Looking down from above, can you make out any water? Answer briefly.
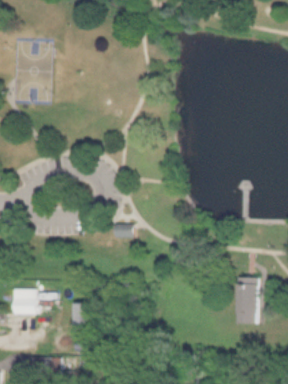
Yes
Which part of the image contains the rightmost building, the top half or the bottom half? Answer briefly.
bottom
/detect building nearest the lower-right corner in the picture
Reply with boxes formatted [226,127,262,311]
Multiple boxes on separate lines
[236,278,260,324]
